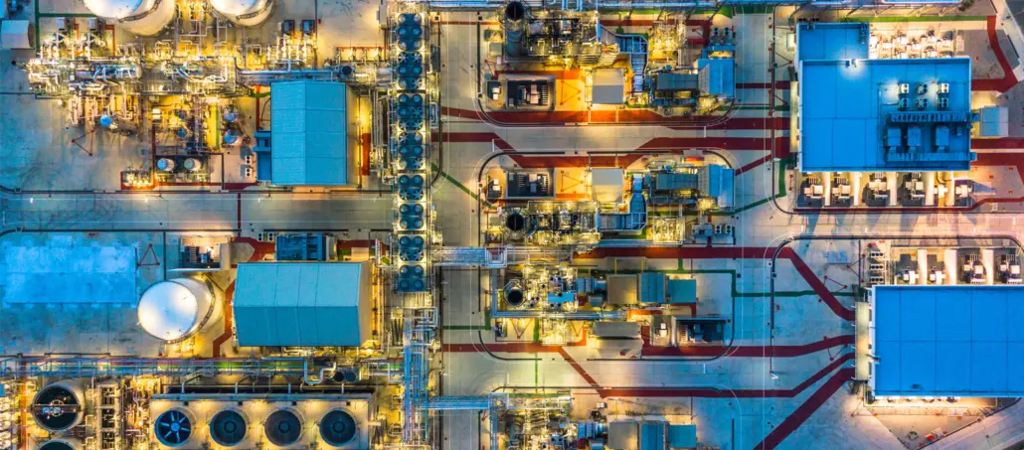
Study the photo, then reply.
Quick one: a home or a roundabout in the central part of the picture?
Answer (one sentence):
Visible in the central part of the picture is a home.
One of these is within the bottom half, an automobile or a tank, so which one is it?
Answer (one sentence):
It is a tank that can be seen within the bottom half.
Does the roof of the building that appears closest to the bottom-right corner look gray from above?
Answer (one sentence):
No, the color of the roof of the building that appears closest to the bottom-right corner is blue.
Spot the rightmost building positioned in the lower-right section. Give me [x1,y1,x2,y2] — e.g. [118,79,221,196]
[861,282,1024,399]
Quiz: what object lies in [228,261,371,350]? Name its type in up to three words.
building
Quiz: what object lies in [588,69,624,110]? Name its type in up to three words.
house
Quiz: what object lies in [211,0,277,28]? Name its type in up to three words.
storage tank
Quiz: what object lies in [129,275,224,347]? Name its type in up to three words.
storage tank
